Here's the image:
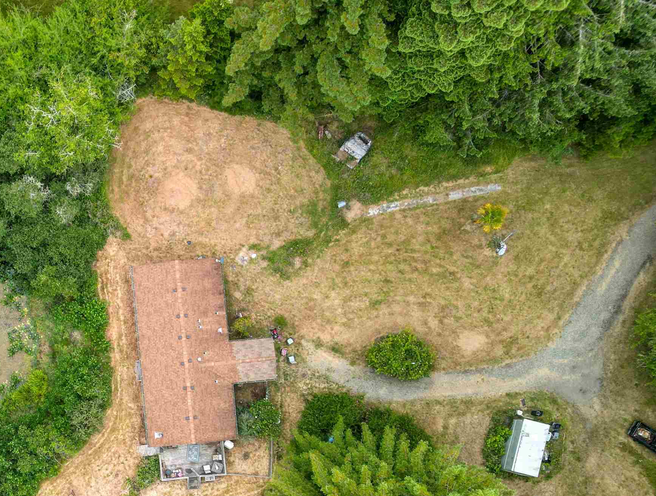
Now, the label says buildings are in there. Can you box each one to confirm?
[130,257,276,450]
[495,418,550,477]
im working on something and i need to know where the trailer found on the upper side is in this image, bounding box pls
[331,130,372,172]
